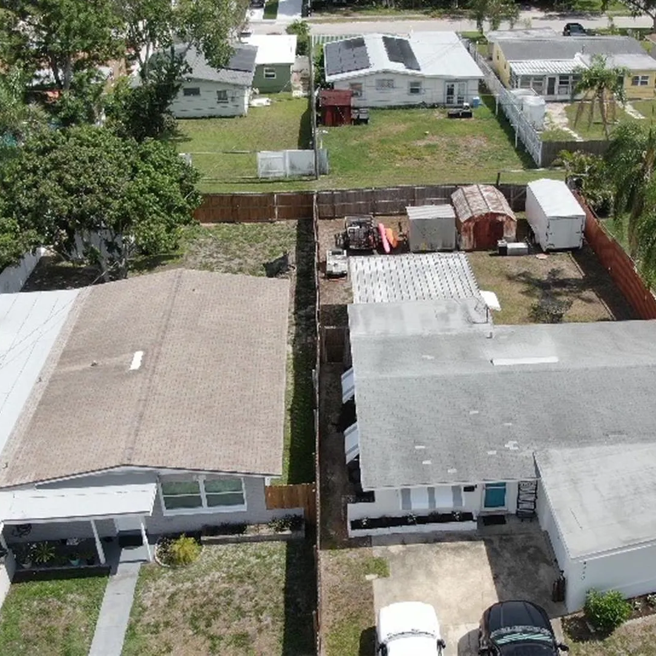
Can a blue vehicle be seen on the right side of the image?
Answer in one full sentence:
No, there's no blue vehicle to be seen on the right side of the image.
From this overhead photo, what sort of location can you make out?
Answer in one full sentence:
This image shows a residential area.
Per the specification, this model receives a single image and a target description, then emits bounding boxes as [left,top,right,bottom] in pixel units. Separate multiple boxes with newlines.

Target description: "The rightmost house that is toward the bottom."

[348,255,656,614]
